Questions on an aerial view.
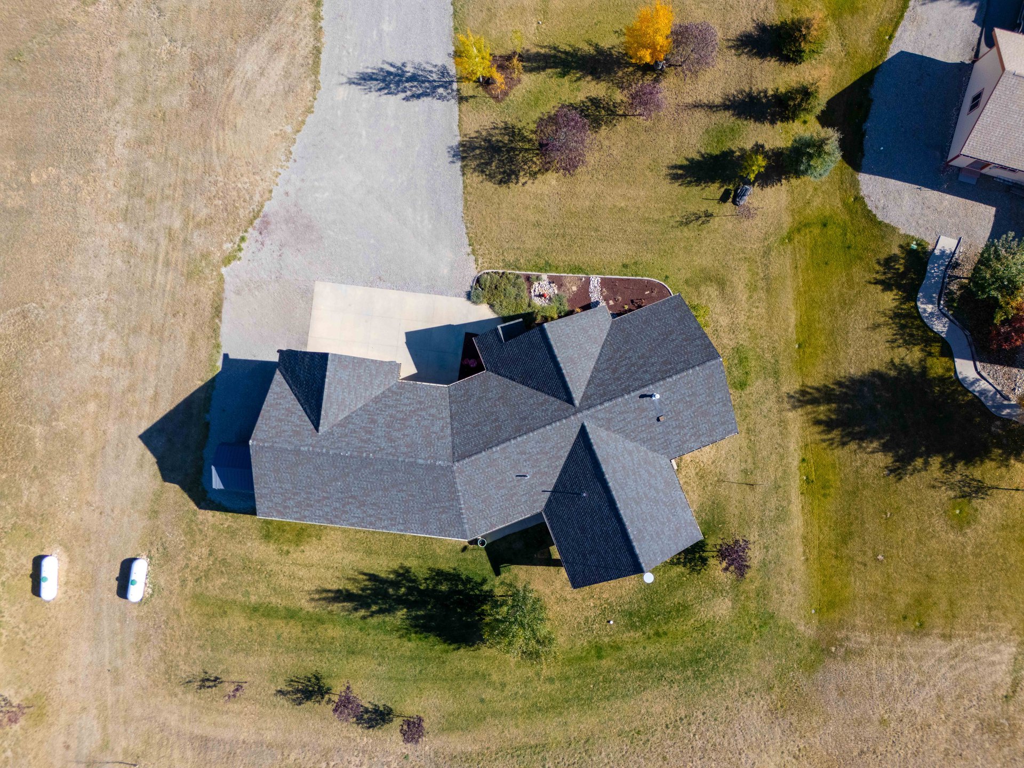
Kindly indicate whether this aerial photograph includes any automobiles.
No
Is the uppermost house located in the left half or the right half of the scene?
right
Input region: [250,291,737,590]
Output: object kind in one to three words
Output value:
house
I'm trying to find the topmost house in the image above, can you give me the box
[945,28,1024,194]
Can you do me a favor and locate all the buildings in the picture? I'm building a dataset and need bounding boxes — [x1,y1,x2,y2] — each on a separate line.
[945,28,1024,194]
[250,291,737,590]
